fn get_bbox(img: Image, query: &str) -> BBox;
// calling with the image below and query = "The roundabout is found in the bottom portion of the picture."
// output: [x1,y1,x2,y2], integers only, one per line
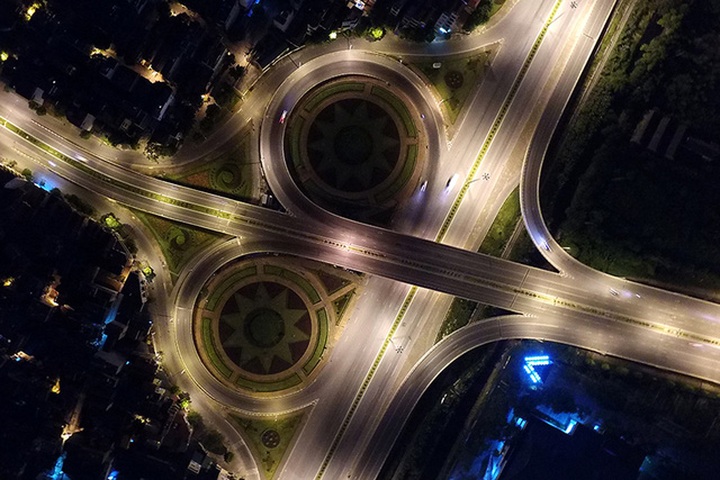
[193,258,365,396]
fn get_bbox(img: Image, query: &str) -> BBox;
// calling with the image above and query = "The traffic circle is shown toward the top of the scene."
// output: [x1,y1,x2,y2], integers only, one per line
[285,78,427,228]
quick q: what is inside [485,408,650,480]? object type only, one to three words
building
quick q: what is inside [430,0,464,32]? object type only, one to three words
house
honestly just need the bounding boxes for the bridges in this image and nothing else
[0,103,720,363]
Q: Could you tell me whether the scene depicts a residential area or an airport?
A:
residential area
